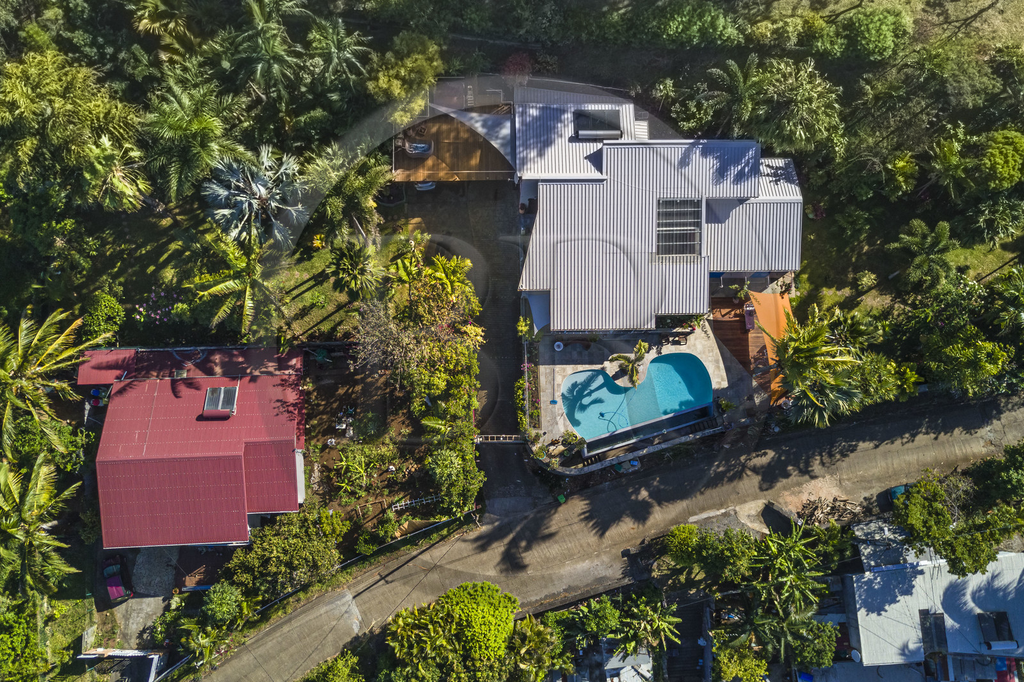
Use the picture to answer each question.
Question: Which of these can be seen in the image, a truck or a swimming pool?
swimming pool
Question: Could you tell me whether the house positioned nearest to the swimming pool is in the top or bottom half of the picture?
top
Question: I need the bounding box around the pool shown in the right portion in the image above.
[560,352,714,457]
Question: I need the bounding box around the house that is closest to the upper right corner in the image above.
[515,87,803,331]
